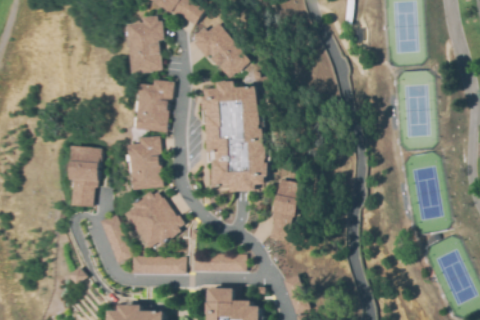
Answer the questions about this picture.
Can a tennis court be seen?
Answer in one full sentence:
Yes, a tennis court is visible in the scene.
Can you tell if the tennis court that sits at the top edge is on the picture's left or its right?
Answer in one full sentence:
You can find the tennis court that sits at the top edge on the right side of the picture.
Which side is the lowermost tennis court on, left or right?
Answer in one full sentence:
The lowermost tennis court sits on the right side.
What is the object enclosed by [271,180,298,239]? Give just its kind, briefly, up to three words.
house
